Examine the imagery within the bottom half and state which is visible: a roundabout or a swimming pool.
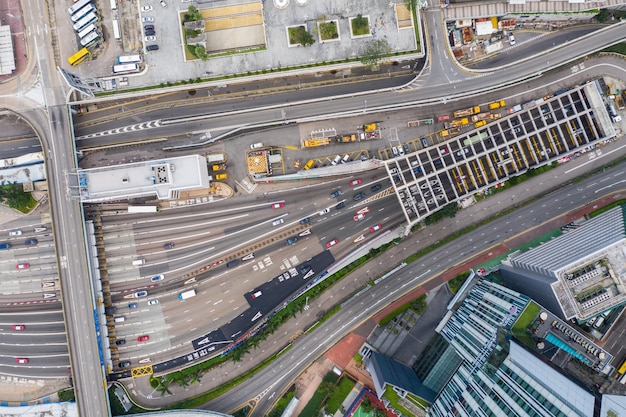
swimming pool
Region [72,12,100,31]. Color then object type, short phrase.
white vehicle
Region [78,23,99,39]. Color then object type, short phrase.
white vehicle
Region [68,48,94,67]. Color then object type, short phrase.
yellow vehicle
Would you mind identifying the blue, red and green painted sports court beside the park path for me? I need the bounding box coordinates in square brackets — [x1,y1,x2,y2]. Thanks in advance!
[349,386,390,417]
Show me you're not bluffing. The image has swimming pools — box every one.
[546,332,592,366]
